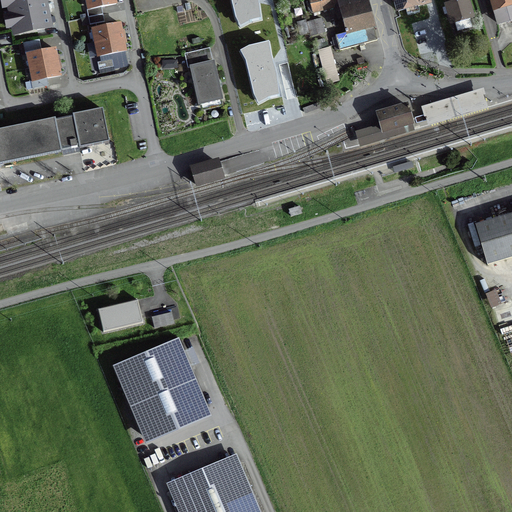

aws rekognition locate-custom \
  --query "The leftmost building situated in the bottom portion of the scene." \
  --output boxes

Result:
[98,300,143,332]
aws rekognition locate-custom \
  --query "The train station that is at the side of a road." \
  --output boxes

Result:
[254,98,512,208]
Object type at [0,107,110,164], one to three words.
building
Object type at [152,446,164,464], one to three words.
vehicle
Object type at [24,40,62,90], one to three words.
house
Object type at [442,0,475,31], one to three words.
house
